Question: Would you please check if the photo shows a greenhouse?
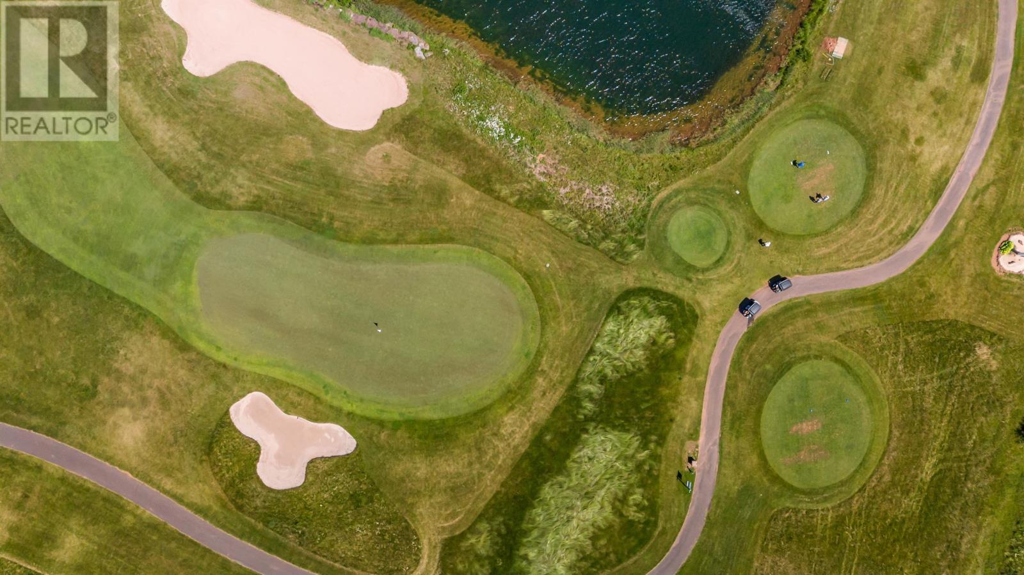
No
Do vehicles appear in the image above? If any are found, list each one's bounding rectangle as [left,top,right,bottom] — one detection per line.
[742,300,762,318]
[771,278,792,292]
